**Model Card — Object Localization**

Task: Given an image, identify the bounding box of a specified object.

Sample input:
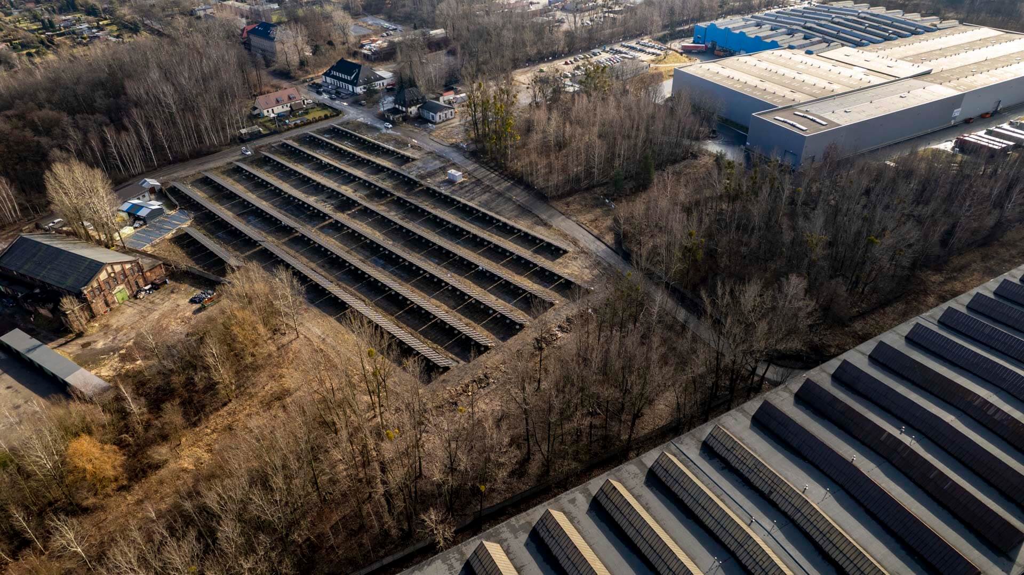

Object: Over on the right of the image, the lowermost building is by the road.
[397,267,1024,575]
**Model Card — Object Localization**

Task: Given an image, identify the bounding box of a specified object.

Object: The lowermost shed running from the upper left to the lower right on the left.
[0,328,114,405]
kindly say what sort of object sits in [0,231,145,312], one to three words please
building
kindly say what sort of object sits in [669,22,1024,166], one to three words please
warehouse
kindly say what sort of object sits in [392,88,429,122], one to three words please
house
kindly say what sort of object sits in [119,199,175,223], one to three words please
hangar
